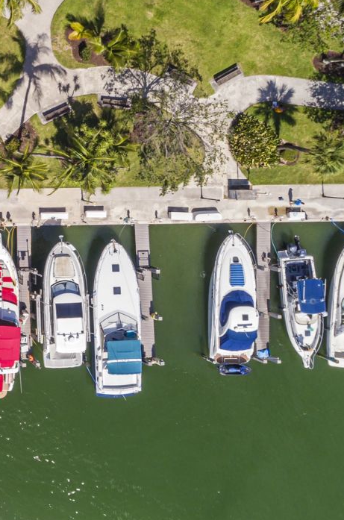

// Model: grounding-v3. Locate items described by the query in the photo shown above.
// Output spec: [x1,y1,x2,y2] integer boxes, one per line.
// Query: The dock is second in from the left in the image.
[133,226,155,359]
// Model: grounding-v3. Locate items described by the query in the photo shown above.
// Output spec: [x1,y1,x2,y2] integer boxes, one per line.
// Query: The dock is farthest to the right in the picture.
[254,224,272,351]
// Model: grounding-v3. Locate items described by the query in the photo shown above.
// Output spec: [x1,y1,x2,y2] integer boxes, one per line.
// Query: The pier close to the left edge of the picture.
[16,227,33,359]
